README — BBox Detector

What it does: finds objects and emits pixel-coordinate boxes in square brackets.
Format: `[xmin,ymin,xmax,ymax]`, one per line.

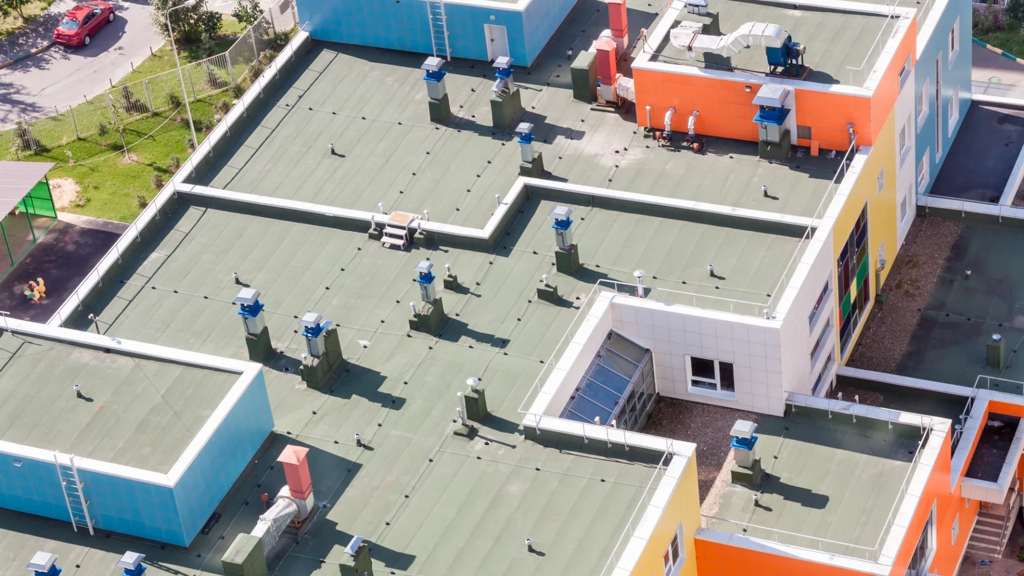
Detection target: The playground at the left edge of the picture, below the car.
[0,219,125,326]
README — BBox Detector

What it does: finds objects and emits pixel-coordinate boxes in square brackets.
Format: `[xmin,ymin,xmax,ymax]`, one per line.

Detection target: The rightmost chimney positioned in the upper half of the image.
[750,86,790,162]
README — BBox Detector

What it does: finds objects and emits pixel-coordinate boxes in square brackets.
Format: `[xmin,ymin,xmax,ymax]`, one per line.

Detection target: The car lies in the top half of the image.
[54,0,115,44]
